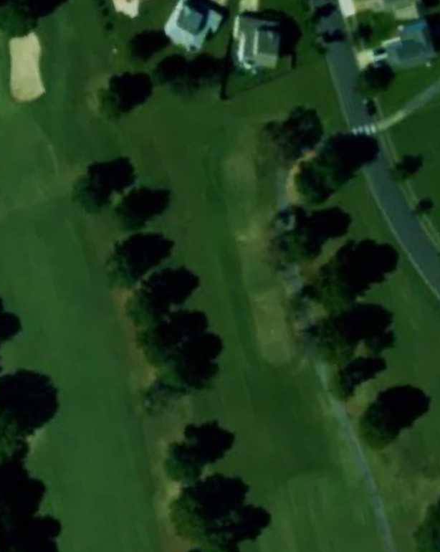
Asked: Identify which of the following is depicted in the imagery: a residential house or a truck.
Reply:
residential house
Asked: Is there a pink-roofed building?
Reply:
No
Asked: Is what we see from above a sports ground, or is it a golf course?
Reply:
golf course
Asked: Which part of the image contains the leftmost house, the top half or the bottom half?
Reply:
top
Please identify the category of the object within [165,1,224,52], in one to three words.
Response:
house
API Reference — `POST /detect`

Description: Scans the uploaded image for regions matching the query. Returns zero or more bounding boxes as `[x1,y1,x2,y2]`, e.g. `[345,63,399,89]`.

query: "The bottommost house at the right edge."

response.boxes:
[376,17,439,65]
